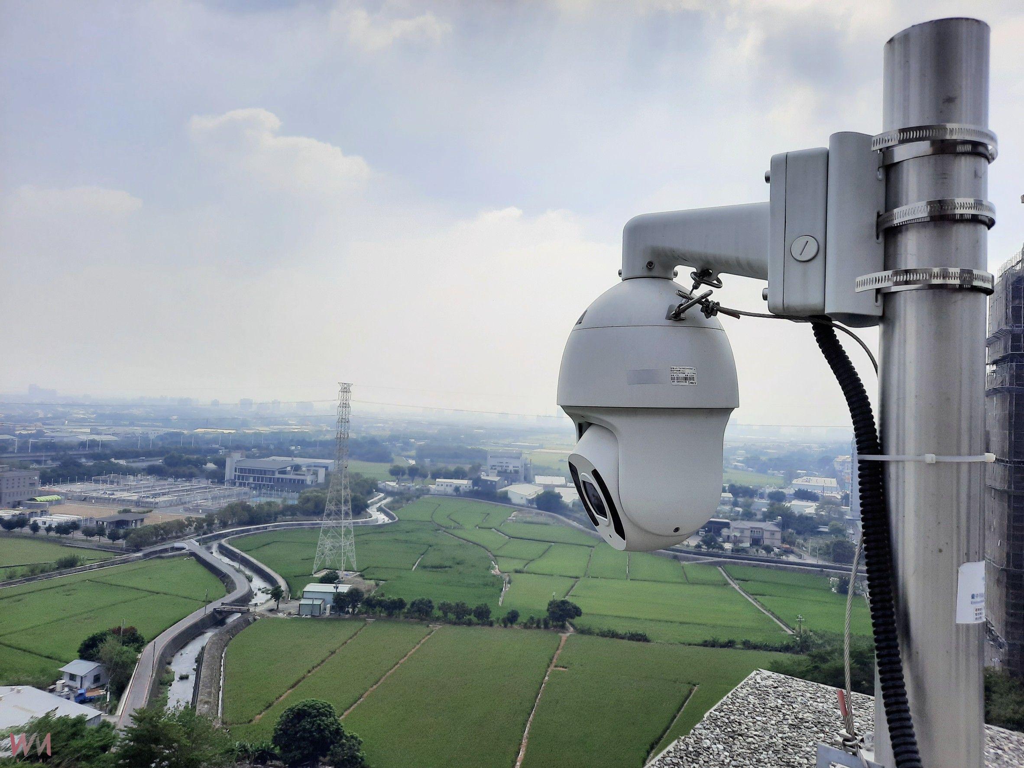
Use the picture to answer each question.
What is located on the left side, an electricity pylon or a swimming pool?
electricity pylon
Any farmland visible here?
Yes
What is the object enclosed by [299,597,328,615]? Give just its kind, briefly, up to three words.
shed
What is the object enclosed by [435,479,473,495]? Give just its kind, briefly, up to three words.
house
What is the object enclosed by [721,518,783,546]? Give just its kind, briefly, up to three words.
house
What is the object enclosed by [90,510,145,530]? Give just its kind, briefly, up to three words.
building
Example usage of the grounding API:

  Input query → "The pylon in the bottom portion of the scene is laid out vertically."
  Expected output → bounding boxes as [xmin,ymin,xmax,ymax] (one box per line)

[307,382,360,575]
